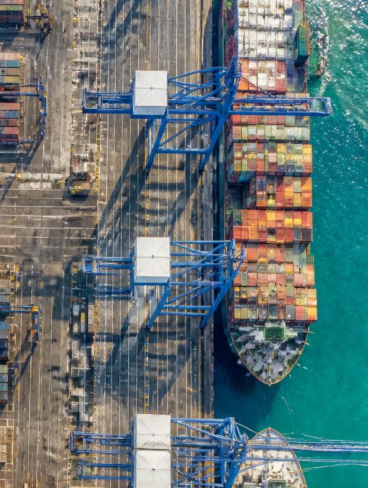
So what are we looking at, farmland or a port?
port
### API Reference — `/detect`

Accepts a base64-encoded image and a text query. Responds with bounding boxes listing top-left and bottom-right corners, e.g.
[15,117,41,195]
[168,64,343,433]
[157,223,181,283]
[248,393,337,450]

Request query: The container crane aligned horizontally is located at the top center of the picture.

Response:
[82,60,336,180]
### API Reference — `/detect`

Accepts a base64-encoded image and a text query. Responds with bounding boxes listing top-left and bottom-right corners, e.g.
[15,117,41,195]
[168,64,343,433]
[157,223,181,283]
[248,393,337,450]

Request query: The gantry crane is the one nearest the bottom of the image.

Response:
[77,447,262,488]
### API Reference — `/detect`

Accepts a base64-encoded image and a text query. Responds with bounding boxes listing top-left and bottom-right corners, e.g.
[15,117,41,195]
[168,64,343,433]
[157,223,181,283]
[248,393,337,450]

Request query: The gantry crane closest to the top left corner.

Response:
[0,3,54,68]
